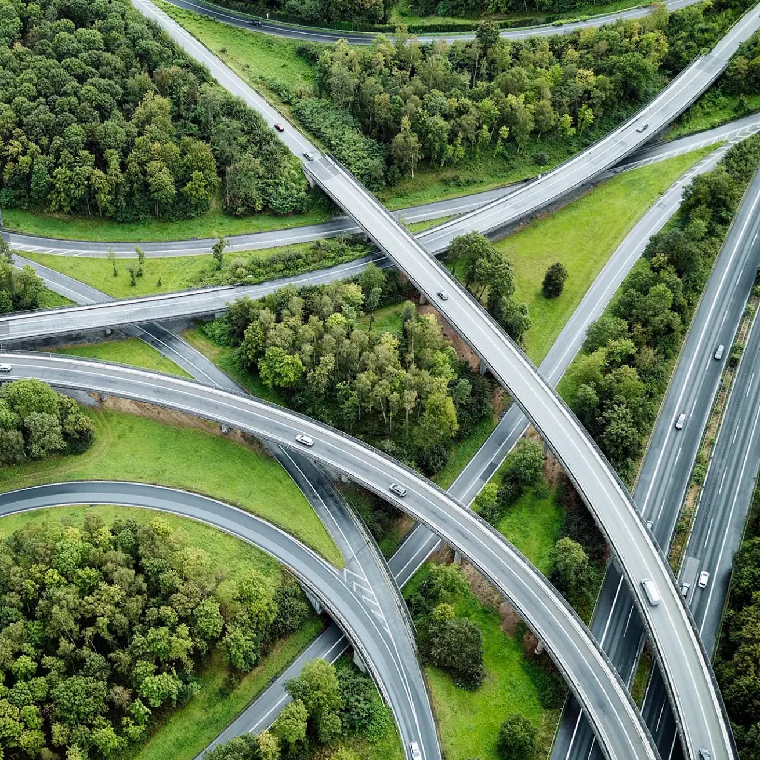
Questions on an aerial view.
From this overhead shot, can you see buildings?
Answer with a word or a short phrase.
No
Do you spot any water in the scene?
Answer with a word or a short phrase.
No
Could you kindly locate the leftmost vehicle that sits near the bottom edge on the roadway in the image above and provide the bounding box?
[410,740,423,760]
